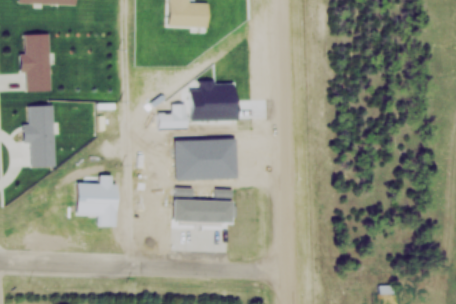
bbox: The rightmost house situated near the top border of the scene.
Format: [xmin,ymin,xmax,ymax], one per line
[168,0,210,34]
